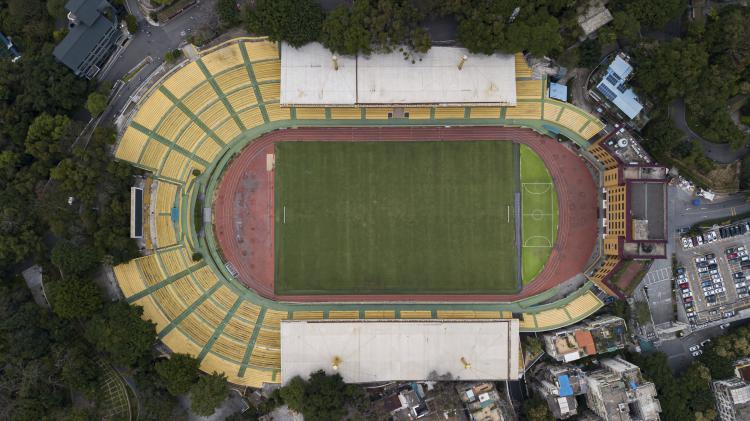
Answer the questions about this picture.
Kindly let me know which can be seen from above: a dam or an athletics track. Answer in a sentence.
It is an athletics track that can be seen here.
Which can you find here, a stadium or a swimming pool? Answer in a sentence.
It is a stadium that can be seen here.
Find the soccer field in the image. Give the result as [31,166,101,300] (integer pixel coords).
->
[274,141,521,295]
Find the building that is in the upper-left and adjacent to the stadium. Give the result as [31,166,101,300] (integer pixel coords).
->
[53,0,135,83]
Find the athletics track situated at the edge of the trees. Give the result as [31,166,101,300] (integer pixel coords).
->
[214,126,597,303]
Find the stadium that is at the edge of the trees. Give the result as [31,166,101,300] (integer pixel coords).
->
[113,35,612,388]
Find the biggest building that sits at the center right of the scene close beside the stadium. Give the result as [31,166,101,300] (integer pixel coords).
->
[589,122,667,302]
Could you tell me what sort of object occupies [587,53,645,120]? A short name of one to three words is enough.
house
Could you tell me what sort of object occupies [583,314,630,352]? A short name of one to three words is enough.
house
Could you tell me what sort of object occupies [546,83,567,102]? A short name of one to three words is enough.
shed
